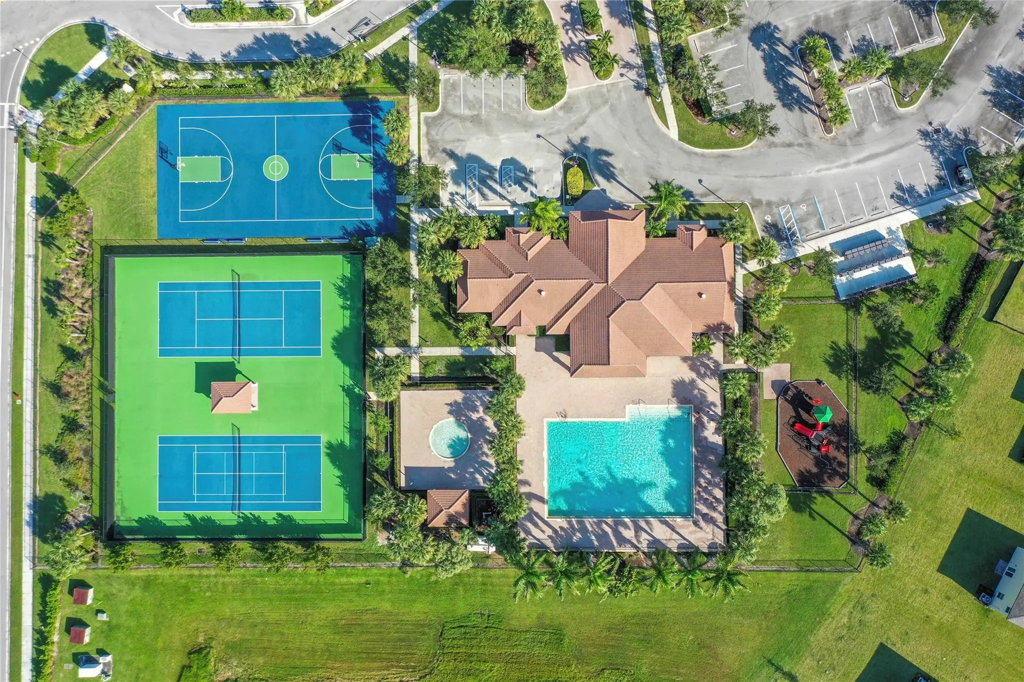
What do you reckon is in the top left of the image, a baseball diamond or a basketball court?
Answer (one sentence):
You can see a basketball court in the top left of the image.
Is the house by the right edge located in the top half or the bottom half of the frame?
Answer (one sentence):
It is in the bottom half that the house by the right edge appears.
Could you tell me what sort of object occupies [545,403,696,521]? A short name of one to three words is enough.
swimming pool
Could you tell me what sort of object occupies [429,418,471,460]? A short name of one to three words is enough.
swimming pool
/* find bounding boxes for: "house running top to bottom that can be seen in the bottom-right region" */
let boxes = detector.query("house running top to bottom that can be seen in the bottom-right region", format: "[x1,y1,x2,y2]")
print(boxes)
[988,546,1024,627]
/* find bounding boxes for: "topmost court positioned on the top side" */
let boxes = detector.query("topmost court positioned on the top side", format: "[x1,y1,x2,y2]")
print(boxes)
[157,101,396,237]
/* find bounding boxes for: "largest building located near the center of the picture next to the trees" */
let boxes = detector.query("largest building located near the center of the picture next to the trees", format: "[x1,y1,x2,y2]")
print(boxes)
[457,210,735,377]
